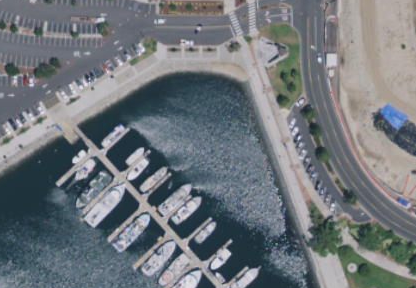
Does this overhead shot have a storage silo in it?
No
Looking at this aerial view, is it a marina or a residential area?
marina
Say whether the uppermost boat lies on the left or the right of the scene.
left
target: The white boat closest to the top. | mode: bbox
[100,126,125,148]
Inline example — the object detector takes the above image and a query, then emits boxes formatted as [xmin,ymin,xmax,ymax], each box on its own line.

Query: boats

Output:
[193,222,218,244]
[230,266,260,288]
[156,251,192,284]
[74,160,94,182]
[76,169,116,208]
[126,158,150,179]
[100,126,125,148]
[210,248,234,270]
[140,242,180,277]
[125,146,144,165]
[139,168,167,194]
[171,198,201,226]
[157,184,192,216]
[112,216,151,253]
[174,271,203,288]
[216,274,226,284]
[78,148,88,157]
[82,184,130,227]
